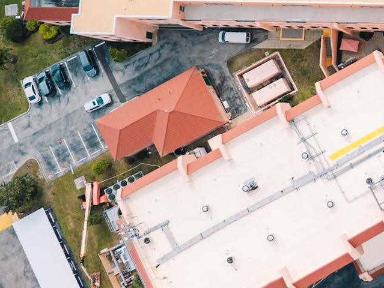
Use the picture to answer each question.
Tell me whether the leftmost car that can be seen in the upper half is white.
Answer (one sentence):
Yes, the leftmost car that can be seen in the upper half appears white.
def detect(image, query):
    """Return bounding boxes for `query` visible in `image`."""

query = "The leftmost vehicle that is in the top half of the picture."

[23,74,45,106]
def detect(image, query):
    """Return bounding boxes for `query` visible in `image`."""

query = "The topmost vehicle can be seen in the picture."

[218,30,254,45]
